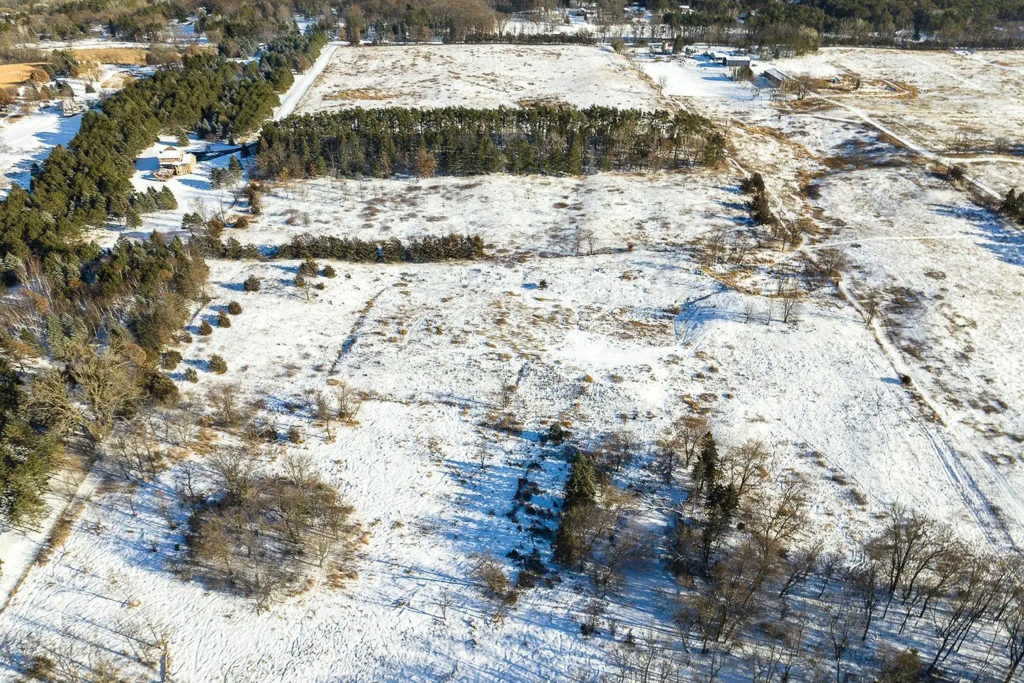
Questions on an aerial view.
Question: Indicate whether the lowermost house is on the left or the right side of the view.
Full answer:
You can find the lowermost house on the left side of the picture.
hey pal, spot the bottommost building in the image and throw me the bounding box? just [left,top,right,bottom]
[150,149,197,178]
